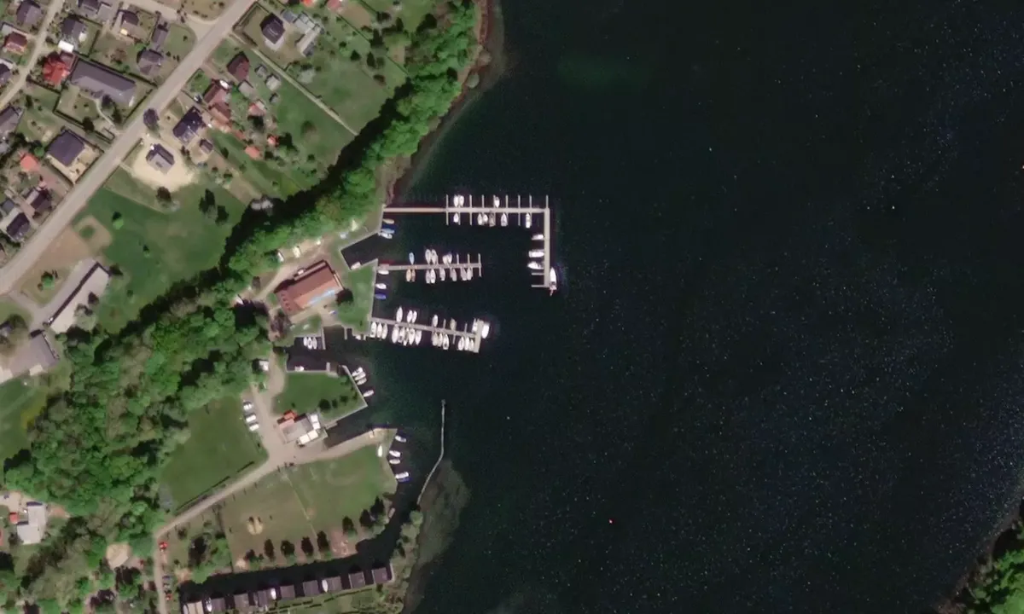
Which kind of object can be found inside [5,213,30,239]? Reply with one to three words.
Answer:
house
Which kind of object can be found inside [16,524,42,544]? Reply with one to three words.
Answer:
building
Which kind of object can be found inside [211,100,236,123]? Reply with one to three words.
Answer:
house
